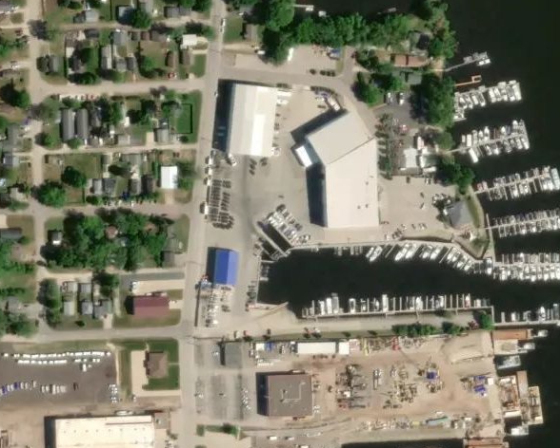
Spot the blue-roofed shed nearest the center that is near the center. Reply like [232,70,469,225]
[213,250,239,285]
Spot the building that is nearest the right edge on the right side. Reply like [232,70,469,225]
[447,202,473,226]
